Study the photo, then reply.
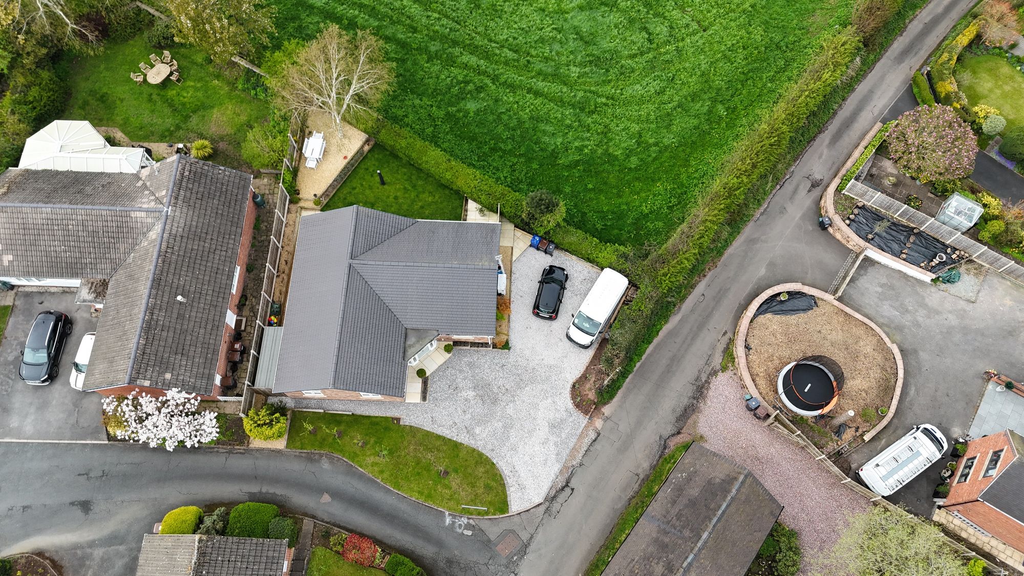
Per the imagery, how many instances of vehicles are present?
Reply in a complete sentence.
My tally gives 5 vehicles in this view.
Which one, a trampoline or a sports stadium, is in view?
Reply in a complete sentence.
I can see a trampoline in this picture.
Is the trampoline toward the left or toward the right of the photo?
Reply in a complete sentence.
The trampoline appears in the right half of the scene.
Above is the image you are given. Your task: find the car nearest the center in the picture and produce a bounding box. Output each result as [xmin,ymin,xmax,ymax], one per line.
[531,266,570,324]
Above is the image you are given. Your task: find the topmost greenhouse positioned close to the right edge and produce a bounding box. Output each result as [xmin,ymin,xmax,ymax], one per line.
[931,192,982,239]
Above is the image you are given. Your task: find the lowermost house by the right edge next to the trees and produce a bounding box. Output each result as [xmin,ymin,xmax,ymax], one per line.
[931,424,1024,550]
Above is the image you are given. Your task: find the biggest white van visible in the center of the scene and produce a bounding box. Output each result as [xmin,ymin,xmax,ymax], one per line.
[569,270,627,354]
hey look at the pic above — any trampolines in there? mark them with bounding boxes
[772,352,847,424]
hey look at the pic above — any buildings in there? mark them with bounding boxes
[599,441,785,576]
[931,424,1024,550]
[931,192,982,239]
[136,534,295,576]
[0,153,259,402]
[272,204,501,404]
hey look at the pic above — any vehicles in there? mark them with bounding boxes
[22,312,76,386]
[531,266,570,324]
[65,331,95,392]
[569,270,627,354]
[849,424,943,501]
